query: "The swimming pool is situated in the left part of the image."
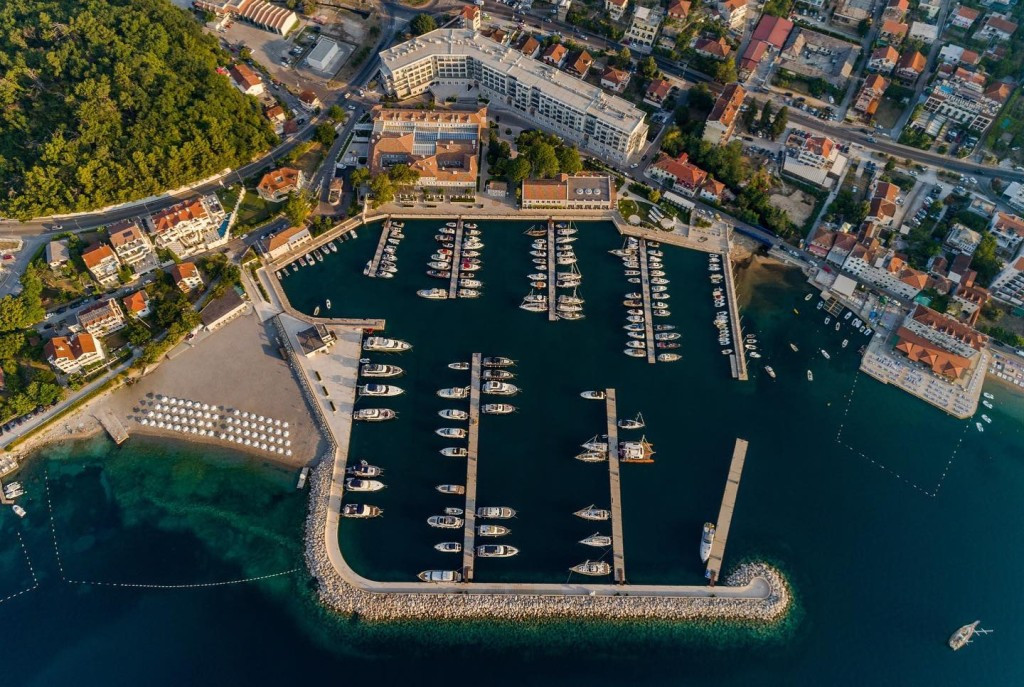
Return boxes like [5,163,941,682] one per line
[216,212,230,239]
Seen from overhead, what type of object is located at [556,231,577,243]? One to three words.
boat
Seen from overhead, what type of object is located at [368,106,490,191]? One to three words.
building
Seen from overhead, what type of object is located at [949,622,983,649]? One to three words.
ship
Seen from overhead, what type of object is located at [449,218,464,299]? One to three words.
pier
